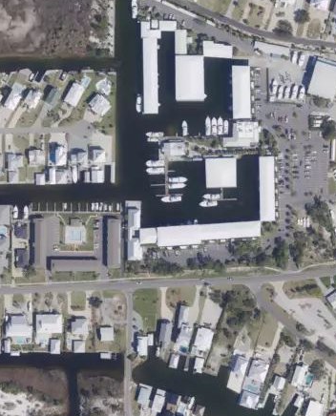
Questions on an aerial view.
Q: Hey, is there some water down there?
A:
Yes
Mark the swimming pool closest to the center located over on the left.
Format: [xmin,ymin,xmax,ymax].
[65,226,86,245]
